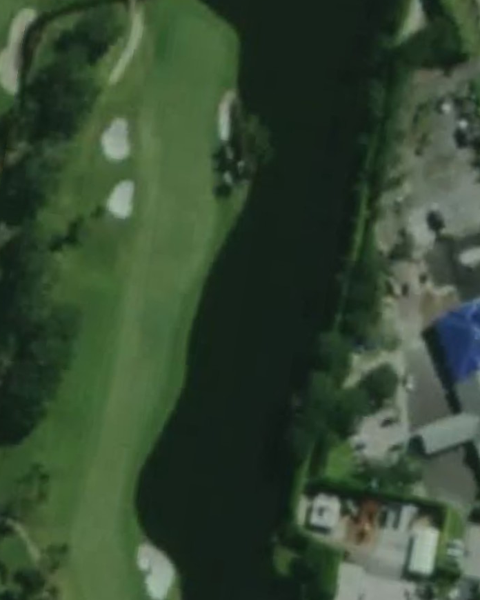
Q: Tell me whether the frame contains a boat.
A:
No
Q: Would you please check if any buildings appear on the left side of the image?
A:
No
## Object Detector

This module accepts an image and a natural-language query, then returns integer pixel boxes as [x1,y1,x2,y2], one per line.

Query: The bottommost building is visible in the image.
[333,564,362,600]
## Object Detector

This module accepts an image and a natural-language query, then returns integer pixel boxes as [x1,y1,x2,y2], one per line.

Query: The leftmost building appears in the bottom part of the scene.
[311,497,341,529]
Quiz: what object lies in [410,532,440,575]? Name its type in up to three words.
shed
